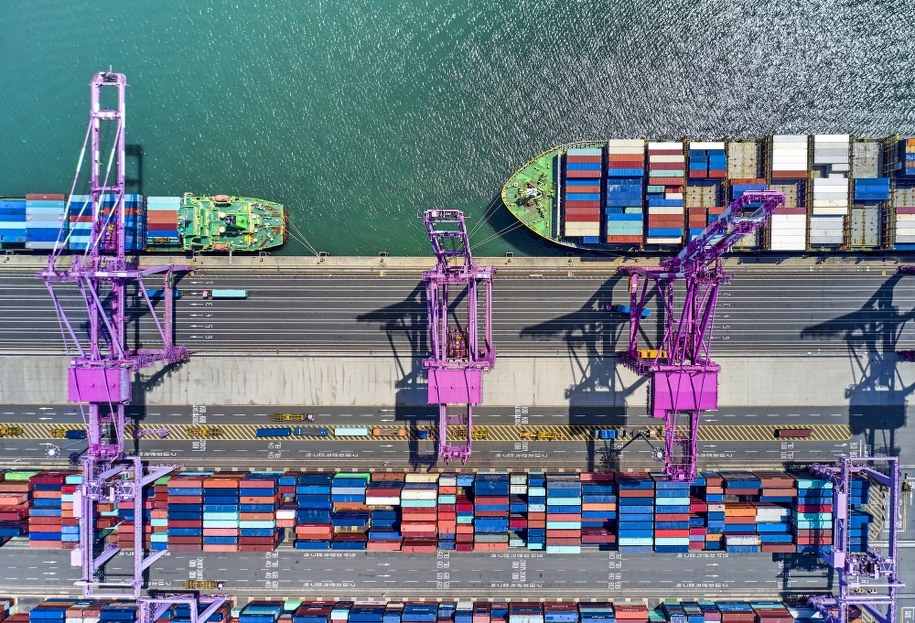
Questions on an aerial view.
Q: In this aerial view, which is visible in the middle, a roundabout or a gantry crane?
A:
gantry crane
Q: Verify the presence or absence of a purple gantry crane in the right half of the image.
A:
Yes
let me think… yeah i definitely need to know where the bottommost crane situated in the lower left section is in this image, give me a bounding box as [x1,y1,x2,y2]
[130,592,236,623]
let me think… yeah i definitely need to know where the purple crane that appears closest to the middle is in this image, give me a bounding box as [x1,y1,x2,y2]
[404,206,505,466]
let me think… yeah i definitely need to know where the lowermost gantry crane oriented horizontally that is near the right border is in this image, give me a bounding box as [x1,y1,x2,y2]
[799,592,901,623]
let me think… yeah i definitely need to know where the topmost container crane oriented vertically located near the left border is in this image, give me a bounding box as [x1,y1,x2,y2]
[27,59,208,466]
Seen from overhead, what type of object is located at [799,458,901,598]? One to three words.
container crane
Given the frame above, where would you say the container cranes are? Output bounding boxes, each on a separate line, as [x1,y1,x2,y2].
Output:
[799,458,901,598]
[27,59,208,466]
[404,206,505,466]
[799,592,901,623]
[614,194,786,480]
[130,592,236,623]
[72,456,183,597]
